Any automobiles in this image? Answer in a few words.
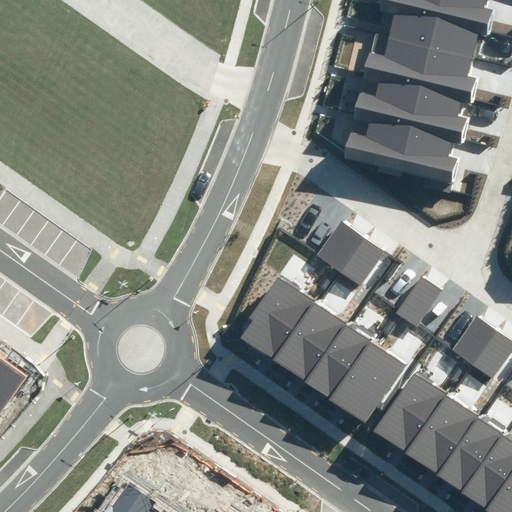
Yes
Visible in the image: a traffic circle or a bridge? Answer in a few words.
traffic circle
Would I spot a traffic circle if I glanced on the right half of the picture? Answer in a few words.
No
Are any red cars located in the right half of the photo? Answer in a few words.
No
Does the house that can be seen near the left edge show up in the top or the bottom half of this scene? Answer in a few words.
bottom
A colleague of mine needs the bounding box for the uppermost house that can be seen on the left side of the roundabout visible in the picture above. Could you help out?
[0,358,30,416]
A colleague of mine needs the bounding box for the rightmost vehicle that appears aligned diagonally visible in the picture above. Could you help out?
[444,311,470,343]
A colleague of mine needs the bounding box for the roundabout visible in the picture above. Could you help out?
[90,297,192,401]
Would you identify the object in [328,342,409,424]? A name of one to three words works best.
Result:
house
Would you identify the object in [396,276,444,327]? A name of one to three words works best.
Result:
building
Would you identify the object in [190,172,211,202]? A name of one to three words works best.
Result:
car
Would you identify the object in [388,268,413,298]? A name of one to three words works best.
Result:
car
